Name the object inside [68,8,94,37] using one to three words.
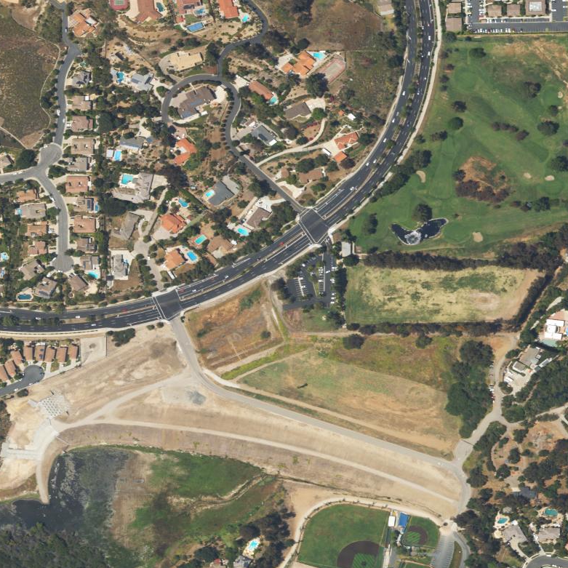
house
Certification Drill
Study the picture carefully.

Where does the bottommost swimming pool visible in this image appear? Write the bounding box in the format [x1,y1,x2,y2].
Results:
[245,537,260,552]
